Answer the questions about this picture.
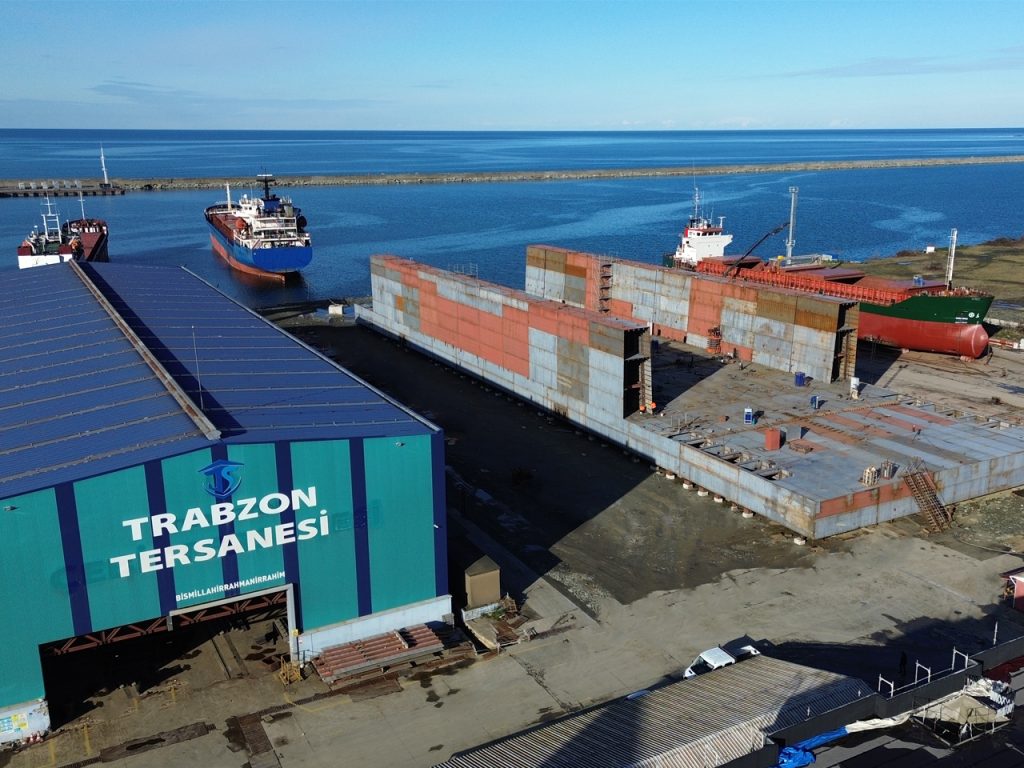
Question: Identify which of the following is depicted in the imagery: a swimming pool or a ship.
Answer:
ship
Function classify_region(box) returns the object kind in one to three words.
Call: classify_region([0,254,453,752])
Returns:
building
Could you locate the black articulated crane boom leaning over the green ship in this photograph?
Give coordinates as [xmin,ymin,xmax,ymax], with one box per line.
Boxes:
[721,220,791,275]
